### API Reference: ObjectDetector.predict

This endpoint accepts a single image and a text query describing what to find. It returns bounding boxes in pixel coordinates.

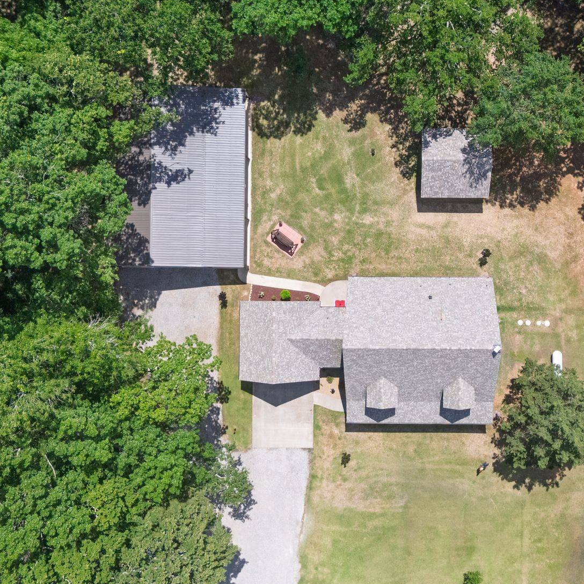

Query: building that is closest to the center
[239,301,345,384]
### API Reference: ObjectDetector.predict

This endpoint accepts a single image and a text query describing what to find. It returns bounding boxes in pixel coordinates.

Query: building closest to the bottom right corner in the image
[342,275,501,425]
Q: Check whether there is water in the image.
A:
No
